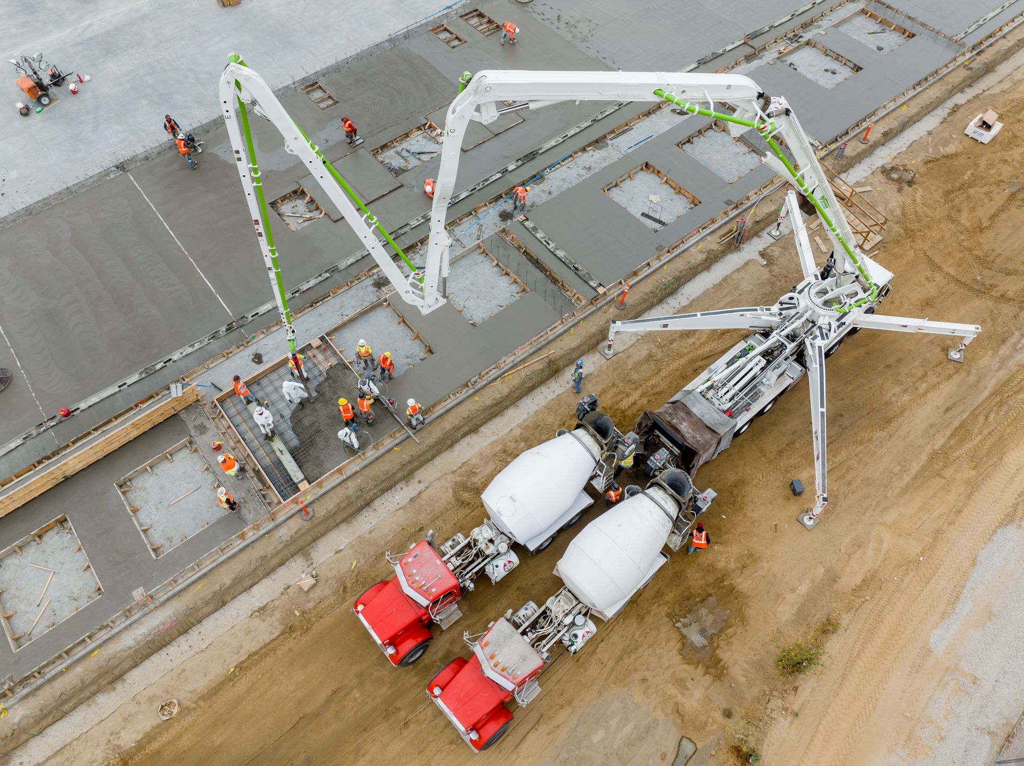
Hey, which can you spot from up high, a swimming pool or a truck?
truck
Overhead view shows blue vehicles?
No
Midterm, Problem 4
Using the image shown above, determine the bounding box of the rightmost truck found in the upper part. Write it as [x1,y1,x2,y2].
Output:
[218,50,988,525]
